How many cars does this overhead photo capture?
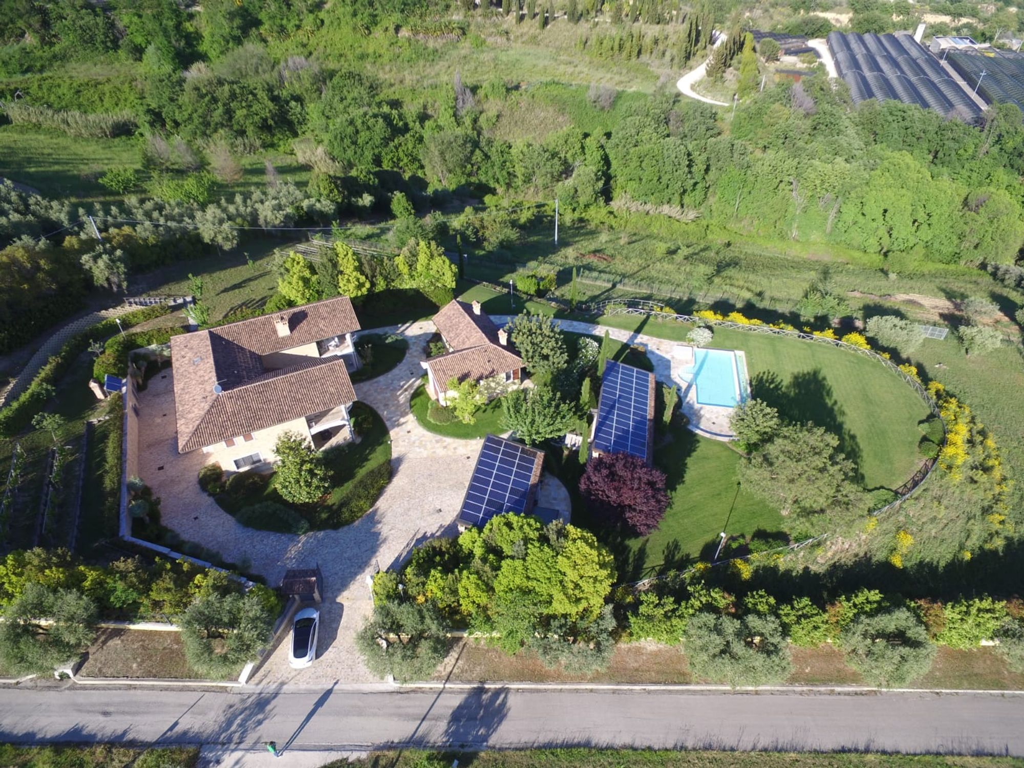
1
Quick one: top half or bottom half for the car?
bottom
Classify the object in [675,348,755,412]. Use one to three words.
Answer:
swimming pool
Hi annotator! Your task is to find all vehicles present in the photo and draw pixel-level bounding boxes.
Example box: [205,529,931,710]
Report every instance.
[287,608,321,666]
